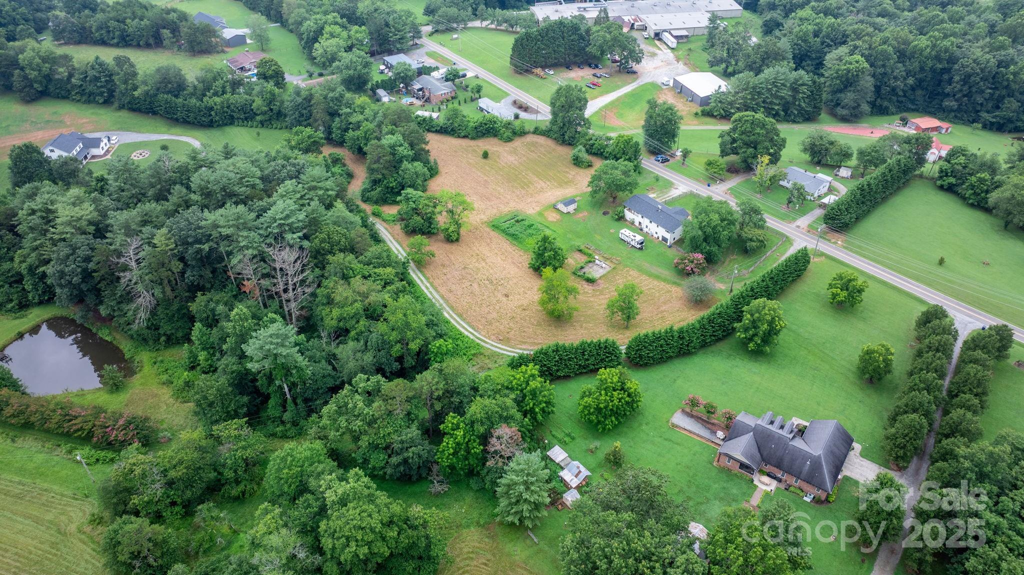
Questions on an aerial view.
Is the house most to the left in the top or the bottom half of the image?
top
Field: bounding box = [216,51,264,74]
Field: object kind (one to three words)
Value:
house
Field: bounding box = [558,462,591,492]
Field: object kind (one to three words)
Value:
shed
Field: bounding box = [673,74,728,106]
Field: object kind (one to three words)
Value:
building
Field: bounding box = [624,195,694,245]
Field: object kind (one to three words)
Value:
house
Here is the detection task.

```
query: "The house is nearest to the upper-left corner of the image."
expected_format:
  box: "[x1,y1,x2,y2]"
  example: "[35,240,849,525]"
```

[38,132,109,167]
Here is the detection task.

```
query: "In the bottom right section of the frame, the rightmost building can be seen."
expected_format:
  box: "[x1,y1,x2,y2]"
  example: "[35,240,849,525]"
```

[718,409,854,500]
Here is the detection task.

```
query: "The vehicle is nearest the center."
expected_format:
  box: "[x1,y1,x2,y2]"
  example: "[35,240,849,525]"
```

[619,229,643,250]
